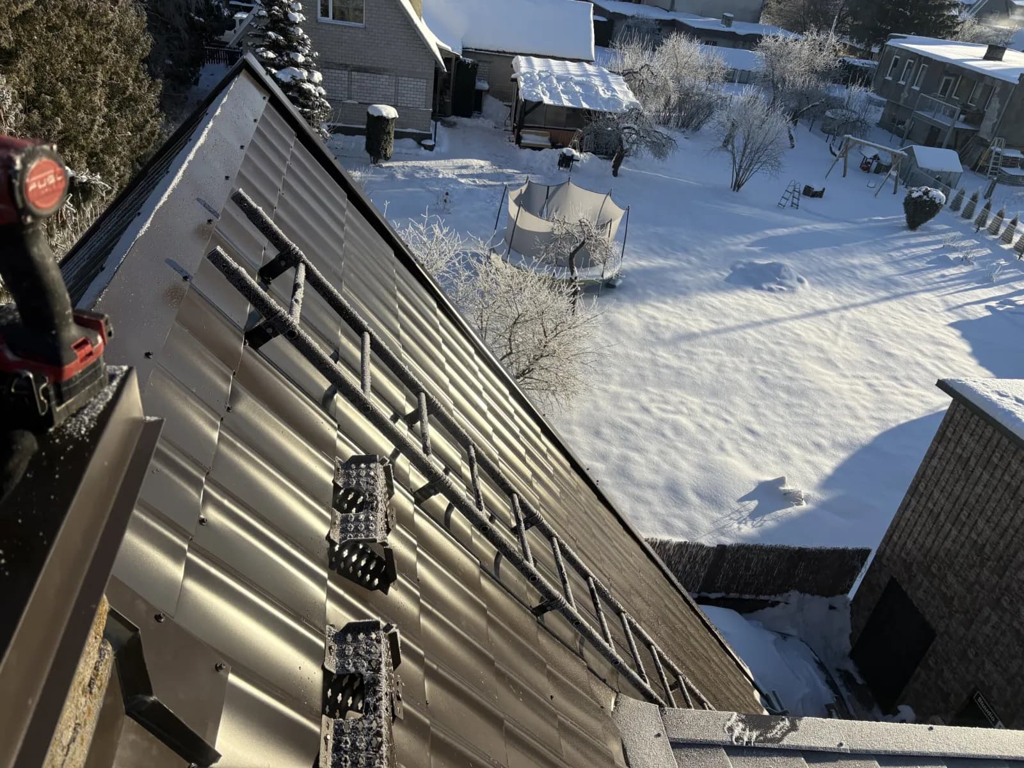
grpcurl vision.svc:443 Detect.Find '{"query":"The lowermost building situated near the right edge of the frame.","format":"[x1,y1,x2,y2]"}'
[844,376,1024,726]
